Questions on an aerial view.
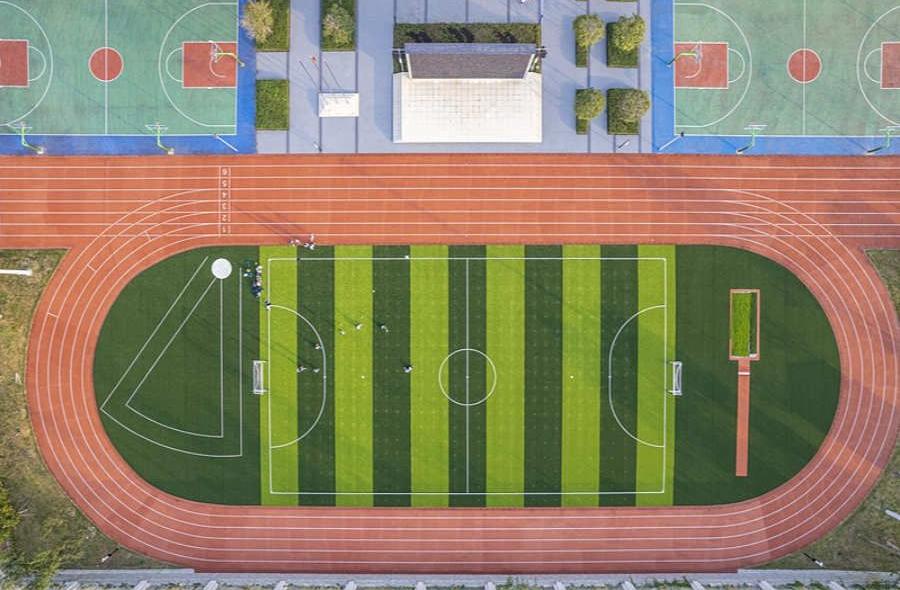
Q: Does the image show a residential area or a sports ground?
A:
sports ground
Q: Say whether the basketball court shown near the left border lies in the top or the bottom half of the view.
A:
top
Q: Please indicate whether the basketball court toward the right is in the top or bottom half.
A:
top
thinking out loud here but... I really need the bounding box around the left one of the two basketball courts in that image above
[0,0,257,154]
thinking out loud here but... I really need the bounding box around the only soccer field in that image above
[260,246,675,506]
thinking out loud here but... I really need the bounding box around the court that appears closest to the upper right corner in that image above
[652,0,900,154]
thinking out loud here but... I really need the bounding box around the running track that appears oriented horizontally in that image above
[0,154,900,573]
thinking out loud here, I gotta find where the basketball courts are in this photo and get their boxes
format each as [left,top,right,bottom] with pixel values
[652,0,900,154]
[0,0,257,154]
